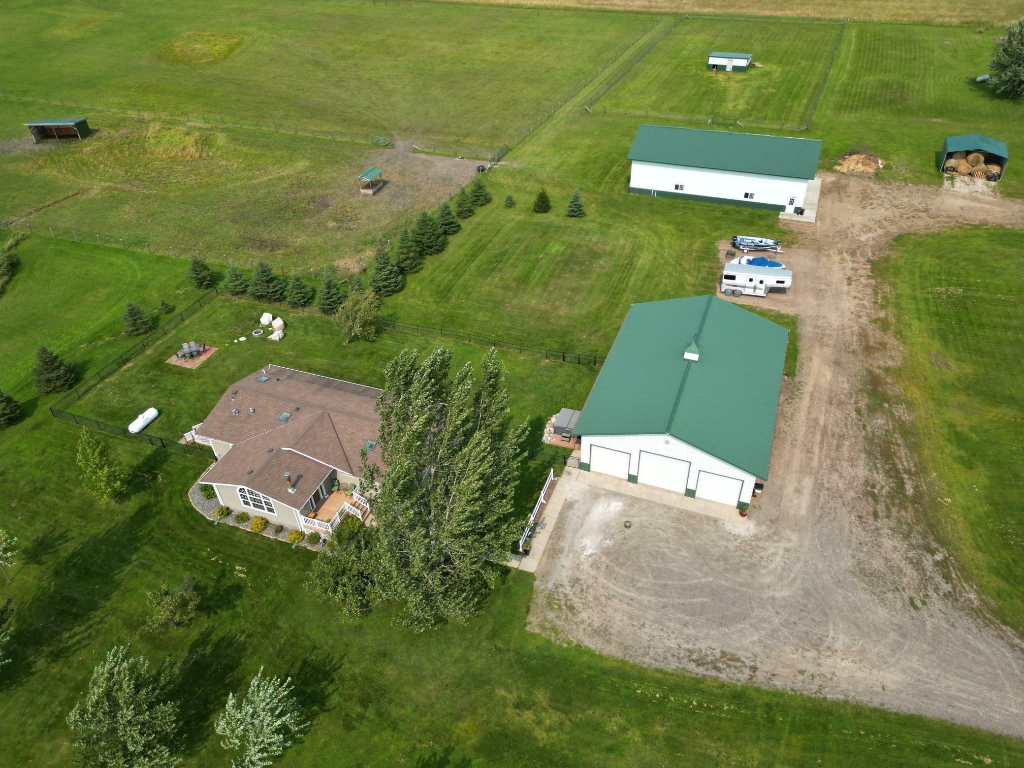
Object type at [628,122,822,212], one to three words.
shed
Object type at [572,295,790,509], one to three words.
barn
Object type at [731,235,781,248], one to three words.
boat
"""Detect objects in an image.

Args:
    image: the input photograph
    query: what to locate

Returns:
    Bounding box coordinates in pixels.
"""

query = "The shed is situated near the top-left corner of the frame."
[19,119,90,143]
